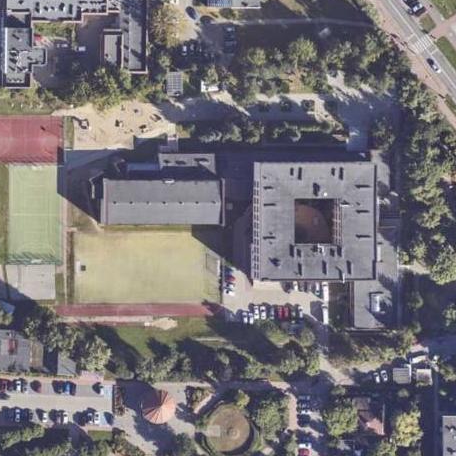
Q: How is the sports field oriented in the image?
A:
from side to side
